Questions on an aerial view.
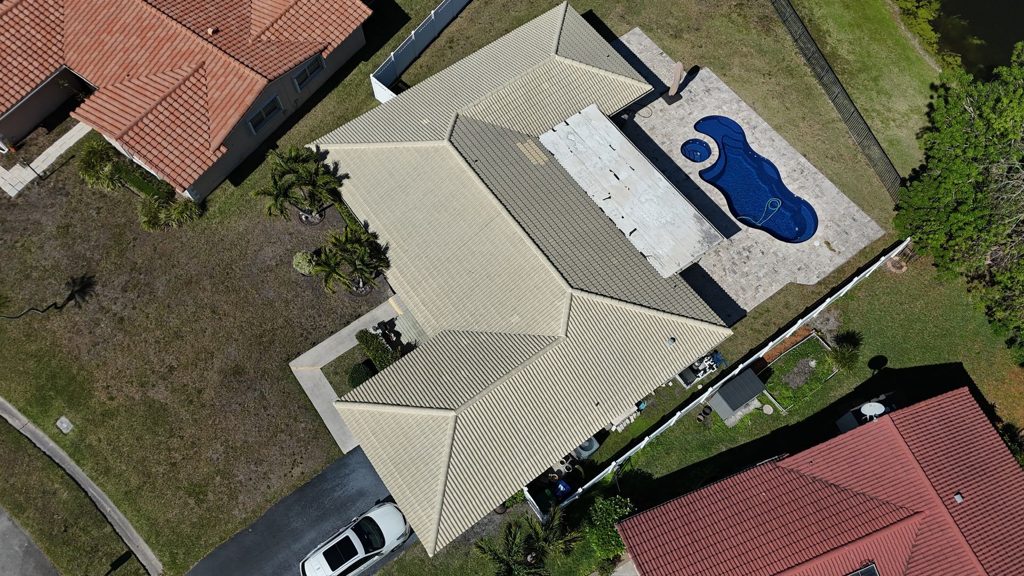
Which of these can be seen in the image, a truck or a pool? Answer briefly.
pool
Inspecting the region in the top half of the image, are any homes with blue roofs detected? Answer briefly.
No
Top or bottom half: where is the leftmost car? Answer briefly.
bottom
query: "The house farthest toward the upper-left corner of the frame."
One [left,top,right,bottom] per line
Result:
[0,0,374,205]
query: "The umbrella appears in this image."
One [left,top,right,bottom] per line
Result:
[661,62,684,107]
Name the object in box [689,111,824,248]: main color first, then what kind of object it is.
blue swimming pool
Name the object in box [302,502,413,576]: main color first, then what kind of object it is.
white car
